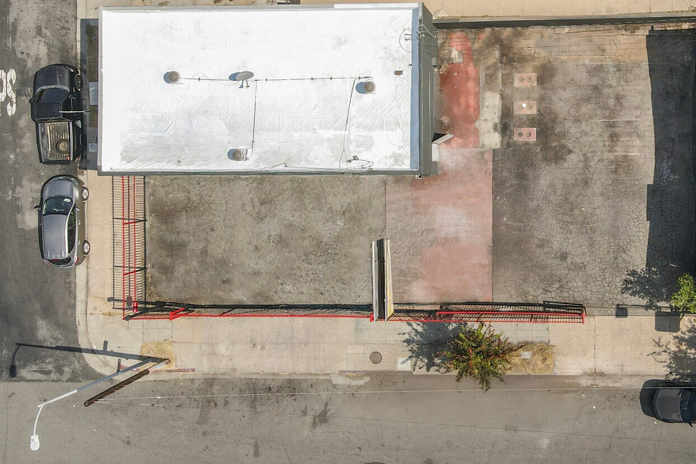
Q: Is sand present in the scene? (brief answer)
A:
No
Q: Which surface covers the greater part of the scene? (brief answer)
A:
paved ground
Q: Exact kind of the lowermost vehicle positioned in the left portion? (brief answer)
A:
car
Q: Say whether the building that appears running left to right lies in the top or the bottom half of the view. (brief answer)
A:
top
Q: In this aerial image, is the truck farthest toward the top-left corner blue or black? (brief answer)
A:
black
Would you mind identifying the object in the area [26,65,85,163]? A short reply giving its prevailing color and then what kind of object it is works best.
black truck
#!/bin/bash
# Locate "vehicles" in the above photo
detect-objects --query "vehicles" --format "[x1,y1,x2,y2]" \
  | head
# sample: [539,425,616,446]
[32,176,91,268]
[26,65,85,163]
[652,381,696,428]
